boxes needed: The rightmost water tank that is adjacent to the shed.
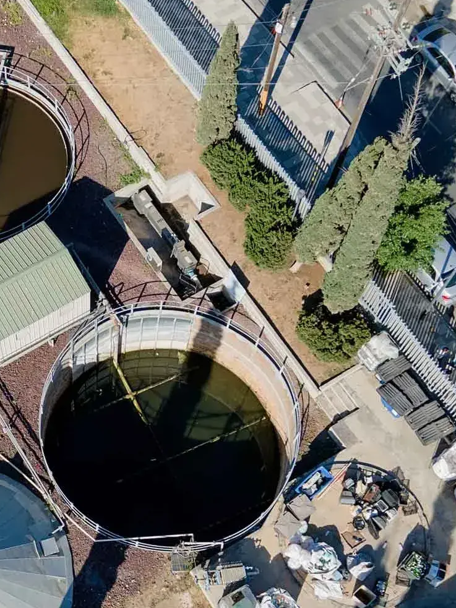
[39,301,299,555]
